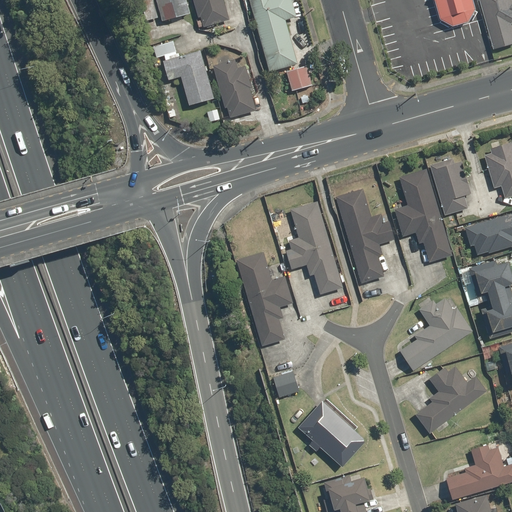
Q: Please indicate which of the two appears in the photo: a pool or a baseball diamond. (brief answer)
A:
pool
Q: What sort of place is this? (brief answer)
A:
residential area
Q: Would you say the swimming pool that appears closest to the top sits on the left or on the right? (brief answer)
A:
right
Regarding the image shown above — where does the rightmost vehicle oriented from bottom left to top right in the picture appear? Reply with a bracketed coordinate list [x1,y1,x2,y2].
[407,320,424,334]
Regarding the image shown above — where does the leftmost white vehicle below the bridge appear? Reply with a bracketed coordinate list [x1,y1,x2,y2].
[42,412,54,432]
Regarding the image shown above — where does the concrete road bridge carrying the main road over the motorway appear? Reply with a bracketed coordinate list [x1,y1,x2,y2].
[0,172,122,268]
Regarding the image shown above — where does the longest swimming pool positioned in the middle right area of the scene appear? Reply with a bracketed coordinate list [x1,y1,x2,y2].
[459,268,483,306]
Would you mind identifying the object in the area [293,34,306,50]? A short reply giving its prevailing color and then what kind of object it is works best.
gray vehicle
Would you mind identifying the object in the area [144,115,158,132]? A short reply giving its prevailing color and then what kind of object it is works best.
white vehicle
